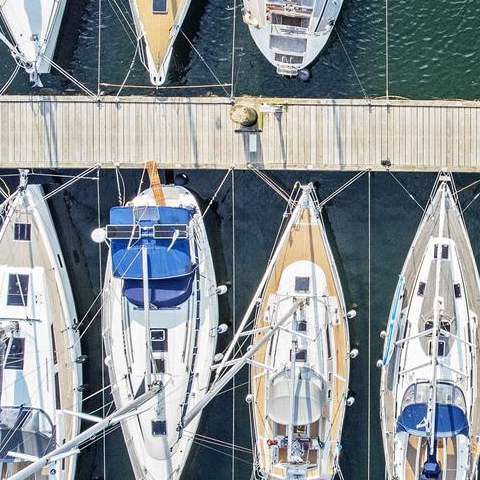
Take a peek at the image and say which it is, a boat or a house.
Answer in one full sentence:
Of the two, only a boat appears.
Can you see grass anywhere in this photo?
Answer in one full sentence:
No, the scene doesn't show any grass.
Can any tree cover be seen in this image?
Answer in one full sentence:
No, there is no tree cover in the image.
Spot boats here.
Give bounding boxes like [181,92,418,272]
[0,0,68,88]
[0,171,79,480]
[242,0,347,76]
[110,0,192,90]
[381,169,480,480]
[0,184,222,480]
[170,174,352,480]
